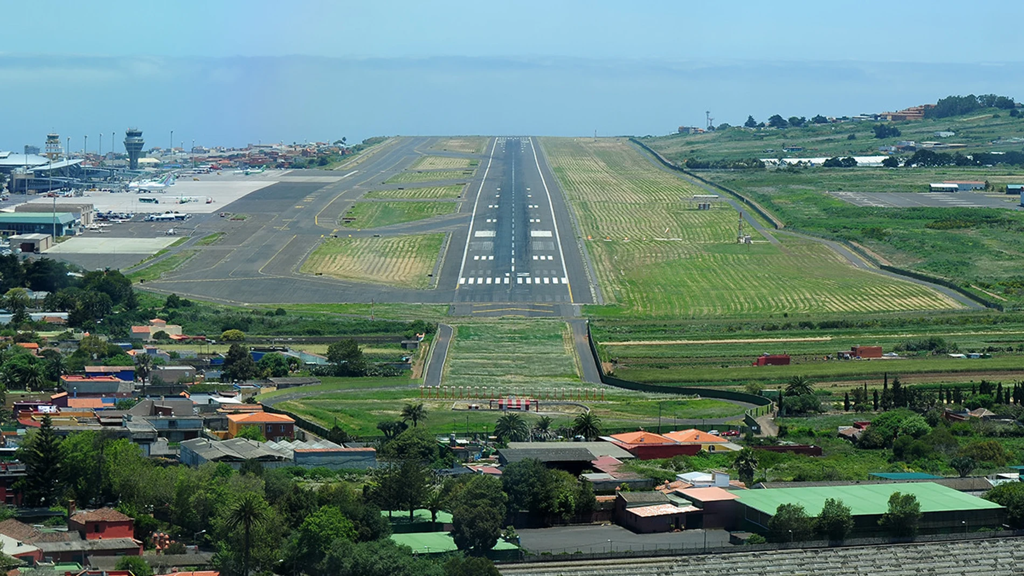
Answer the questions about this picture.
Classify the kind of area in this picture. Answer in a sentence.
The area seen from above is a residential area.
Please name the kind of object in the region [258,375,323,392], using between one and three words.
shed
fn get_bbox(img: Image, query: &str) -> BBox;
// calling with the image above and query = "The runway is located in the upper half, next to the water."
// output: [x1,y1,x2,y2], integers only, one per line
[451,137,576,316]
